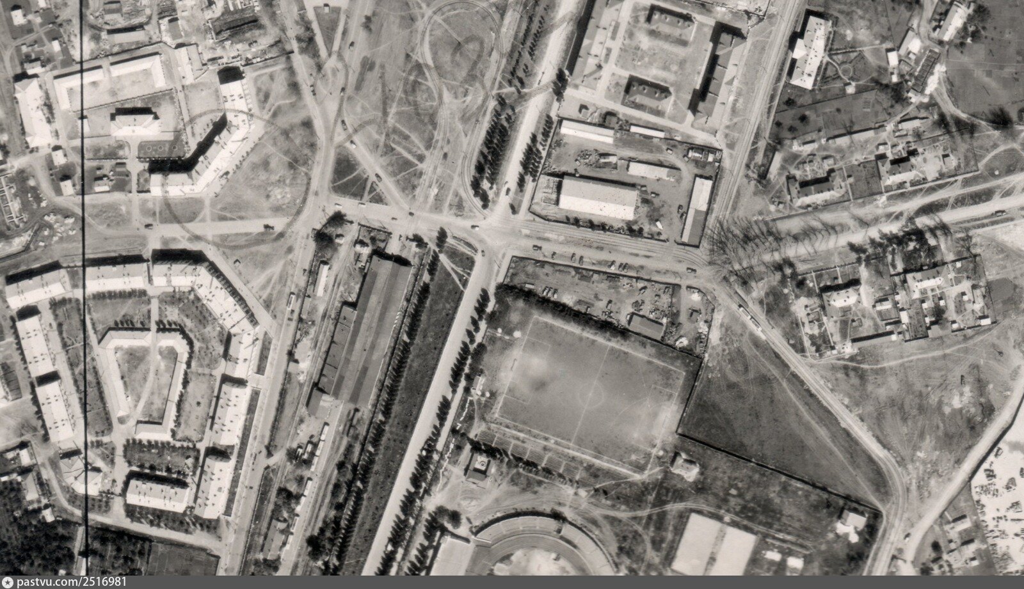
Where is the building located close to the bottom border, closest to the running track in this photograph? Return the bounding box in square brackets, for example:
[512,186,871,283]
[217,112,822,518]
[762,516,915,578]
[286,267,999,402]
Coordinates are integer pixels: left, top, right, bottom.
[429,537,472,583]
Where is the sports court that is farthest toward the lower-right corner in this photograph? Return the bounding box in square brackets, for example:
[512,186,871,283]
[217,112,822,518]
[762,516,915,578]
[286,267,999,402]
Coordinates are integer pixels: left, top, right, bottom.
[707,526,757,581]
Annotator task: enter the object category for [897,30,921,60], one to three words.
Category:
house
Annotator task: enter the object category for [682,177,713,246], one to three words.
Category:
building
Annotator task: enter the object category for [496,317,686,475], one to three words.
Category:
soccer field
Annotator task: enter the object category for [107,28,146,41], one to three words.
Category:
shed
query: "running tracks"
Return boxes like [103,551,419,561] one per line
[462,536,602,589]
